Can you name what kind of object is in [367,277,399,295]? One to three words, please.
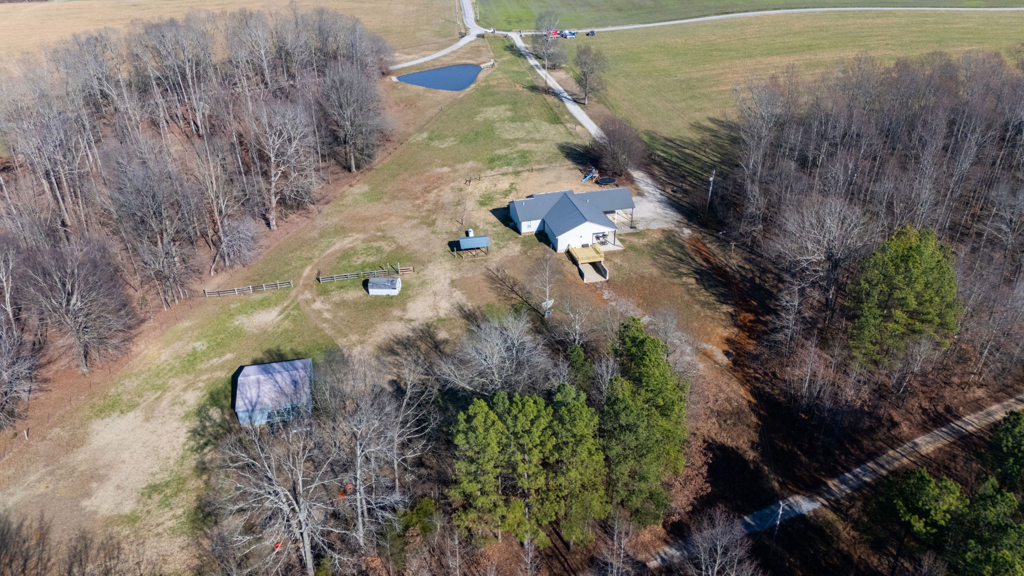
shed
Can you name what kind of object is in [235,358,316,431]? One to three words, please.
barn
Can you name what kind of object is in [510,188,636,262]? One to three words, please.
house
